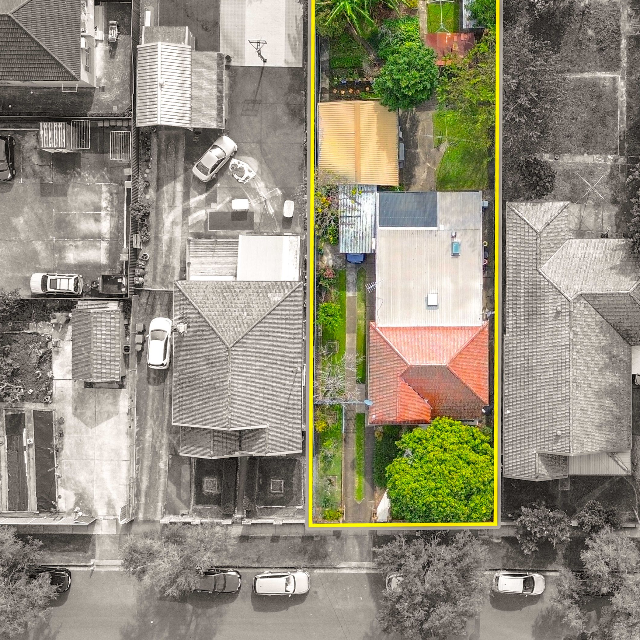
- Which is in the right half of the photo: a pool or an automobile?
automobile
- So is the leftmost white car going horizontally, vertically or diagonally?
horizontally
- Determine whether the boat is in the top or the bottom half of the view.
top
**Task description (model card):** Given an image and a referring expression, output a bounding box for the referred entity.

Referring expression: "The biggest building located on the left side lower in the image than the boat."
[171,280,303,459]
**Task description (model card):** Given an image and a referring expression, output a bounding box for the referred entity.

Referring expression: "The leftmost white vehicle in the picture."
[27,270,87,298]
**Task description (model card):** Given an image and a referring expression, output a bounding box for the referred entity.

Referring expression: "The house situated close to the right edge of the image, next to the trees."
[502,200,640,480]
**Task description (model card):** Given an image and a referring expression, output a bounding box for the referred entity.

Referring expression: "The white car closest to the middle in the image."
[145,316,172,370]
